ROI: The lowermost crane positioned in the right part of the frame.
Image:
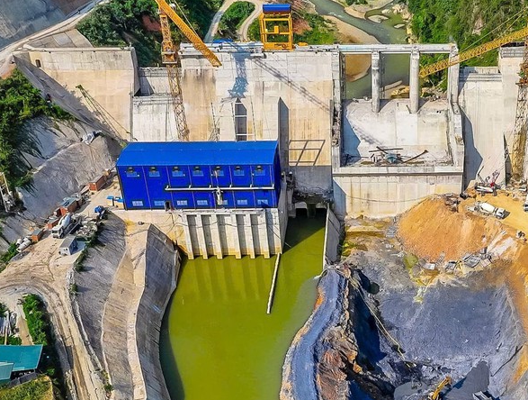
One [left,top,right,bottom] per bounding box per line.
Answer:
[472,101,528,194]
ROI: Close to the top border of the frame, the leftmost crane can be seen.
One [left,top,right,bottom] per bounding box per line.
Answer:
[158,0,222,141]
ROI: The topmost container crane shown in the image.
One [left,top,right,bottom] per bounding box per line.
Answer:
[260,0,296,45]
